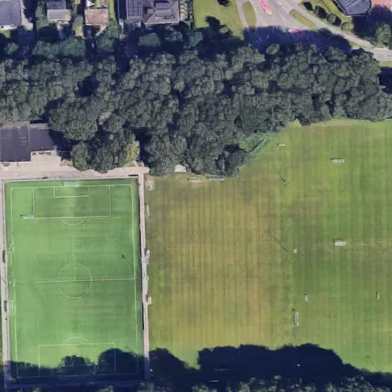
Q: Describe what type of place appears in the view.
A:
sports ground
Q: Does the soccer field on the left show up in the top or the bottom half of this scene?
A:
bottom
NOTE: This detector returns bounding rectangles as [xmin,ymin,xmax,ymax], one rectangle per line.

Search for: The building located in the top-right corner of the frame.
[333,0,372,18]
